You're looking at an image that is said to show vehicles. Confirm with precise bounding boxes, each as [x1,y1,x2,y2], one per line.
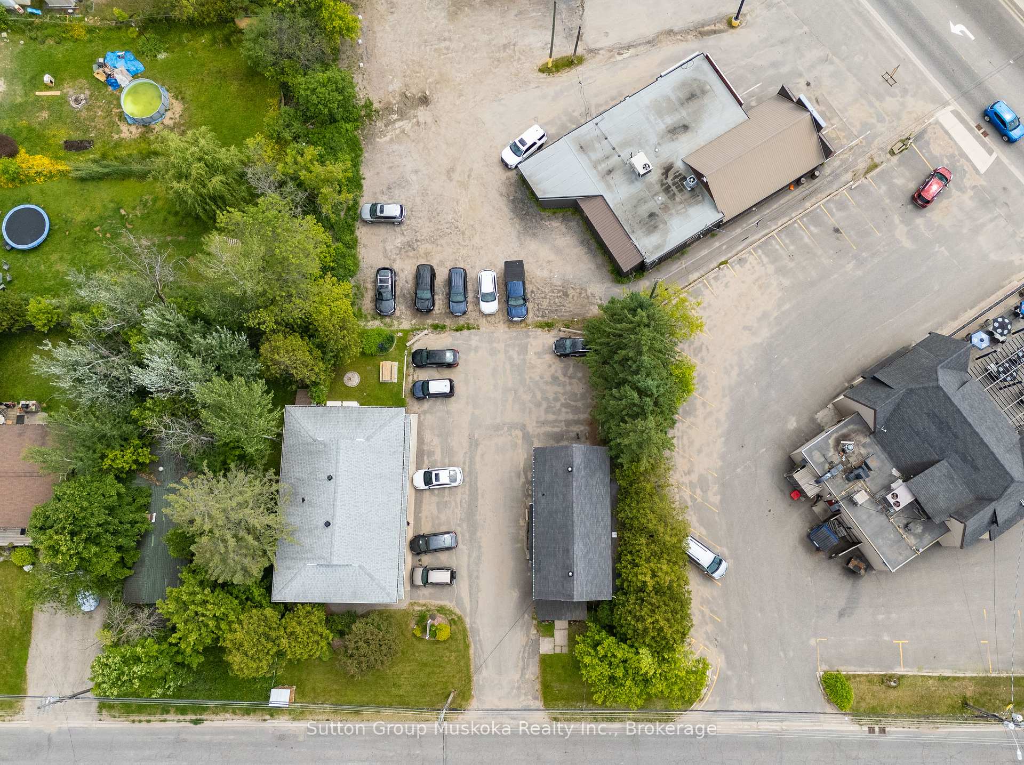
[912,169,951,209]
[679,535,731,581]
[477,270,499,315]
[408,530,460,557]
[983,104,1024,143]
[446,268,470,316]
[411,347,461,370]
[410,564,458,590]
[361,201,408,226]
[412,265,436,314]
[412,466,465,491]
[504,260,529,321]
[411,377,457,401]
[373,267,397,316]
[551,334,600,359]
[502,125,548,167]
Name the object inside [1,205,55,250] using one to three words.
trampoline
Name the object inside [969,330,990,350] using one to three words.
umbrella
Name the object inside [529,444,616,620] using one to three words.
house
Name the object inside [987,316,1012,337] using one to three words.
umbrella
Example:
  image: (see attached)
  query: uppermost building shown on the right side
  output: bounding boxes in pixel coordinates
[518,49,837,276]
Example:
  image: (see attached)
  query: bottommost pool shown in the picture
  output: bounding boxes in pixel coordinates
[119,79,168,123]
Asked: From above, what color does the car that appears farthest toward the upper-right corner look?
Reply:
blue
